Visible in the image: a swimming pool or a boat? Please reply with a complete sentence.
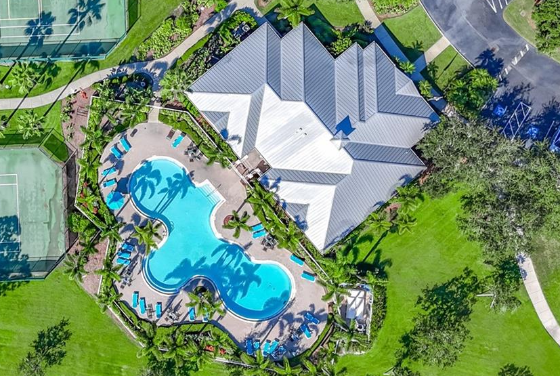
Of the two, only a swimming pool appears.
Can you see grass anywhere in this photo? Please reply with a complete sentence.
Yes, there is grass in the image.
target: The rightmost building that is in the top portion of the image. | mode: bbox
[189,22,444,252]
